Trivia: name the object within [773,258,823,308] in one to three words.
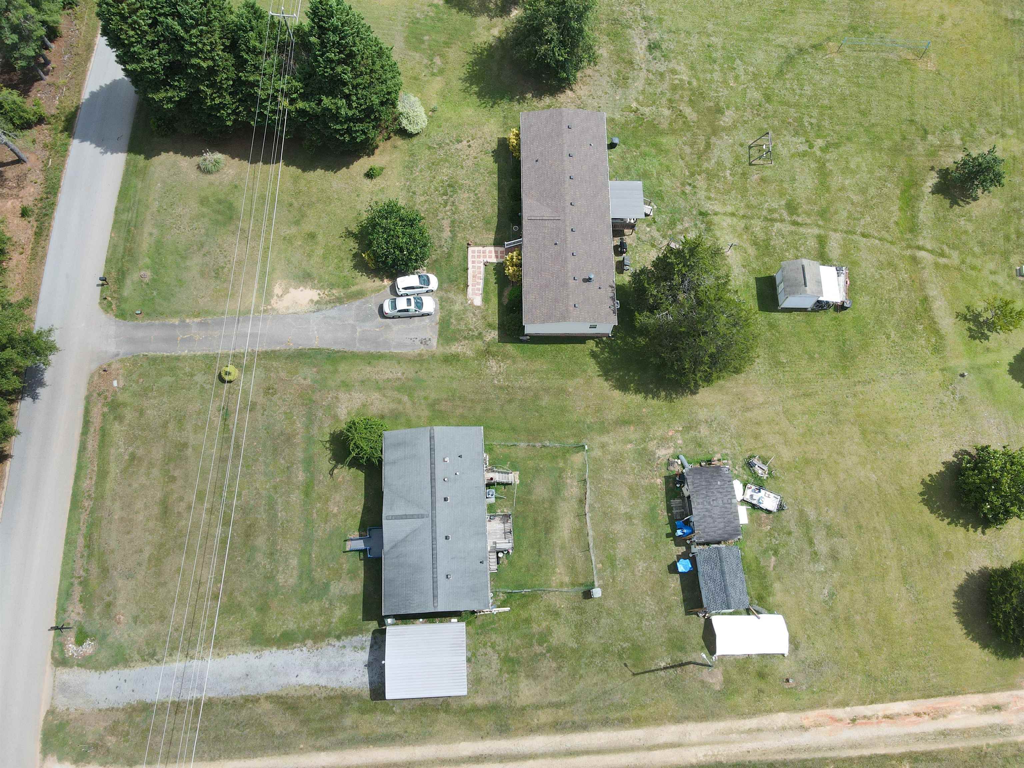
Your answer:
shed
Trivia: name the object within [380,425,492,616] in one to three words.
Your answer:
house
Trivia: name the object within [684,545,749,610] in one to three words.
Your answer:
shed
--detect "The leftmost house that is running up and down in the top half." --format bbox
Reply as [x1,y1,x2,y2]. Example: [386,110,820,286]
[520,107,618,338]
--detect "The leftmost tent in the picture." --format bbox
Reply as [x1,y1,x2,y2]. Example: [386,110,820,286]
[707,614,787,656]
